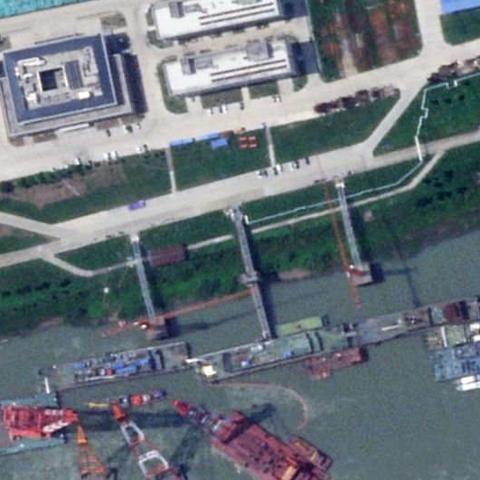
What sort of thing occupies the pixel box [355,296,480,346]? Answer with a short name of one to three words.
pier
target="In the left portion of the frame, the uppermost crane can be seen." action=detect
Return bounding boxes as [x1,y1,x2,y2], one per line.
[99,290,251,338]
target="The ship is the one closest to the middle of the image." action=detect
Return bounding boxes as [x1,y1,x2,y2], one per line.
[278,315,329,335]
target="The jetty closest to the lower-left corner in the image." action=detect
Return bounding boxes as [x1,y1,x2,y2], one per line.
[38,342,189,394]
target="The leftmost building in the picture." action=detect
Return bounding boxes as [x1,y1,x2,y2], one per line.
[0,35,138,137]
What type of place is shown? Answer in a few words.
port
